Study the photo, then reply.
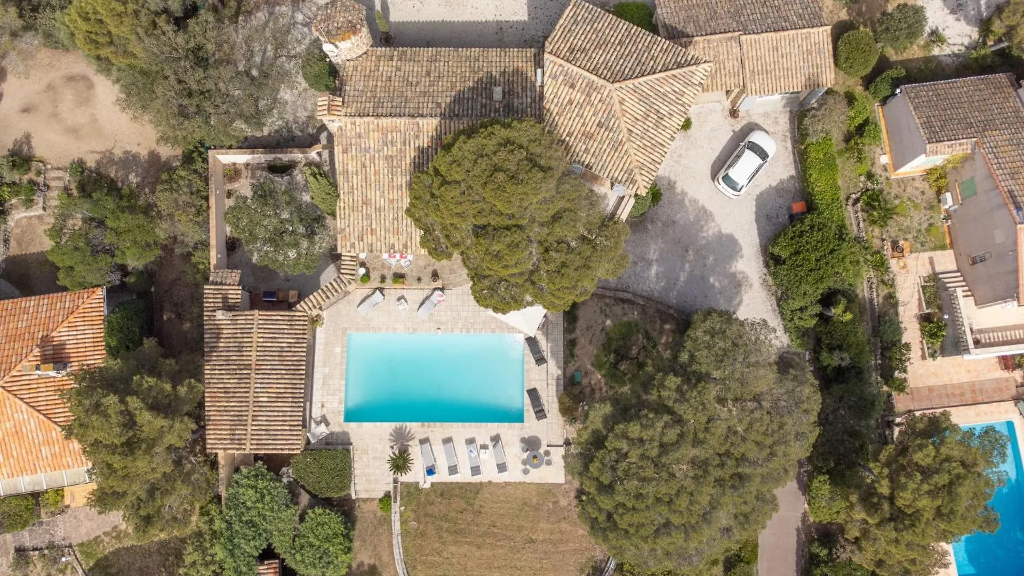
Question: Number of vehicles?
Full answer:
In total, 1 vehicle can be seen.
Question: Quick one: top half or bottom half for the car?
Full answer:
Seen from above, the car lies in the top half of the view.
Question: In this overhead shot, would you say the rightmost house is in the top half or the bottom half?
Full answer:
It is in the top half that the rightmost house appears.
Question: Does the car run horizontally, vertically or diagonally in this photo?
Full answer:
The car runs diagonally in the image.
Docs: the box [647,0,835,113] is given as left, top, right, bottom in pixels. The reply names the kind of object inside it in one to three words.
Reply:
building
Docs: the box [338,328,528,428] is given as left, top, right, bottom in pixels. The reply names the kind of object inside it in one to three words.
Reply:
swimming pool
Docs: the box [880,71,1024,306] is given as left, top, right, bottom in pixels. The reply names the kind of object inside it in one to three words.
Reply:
house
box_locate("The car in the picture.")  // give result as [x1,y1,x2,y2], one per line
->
[716,130,776,200]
